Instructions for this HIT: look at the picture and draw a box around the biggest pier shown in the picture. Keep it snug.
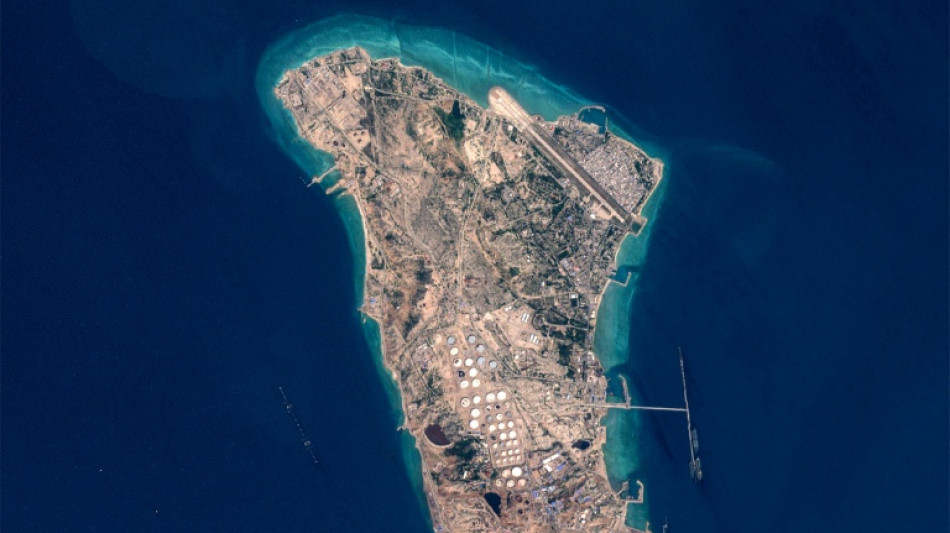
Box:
[604,347,695,465]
